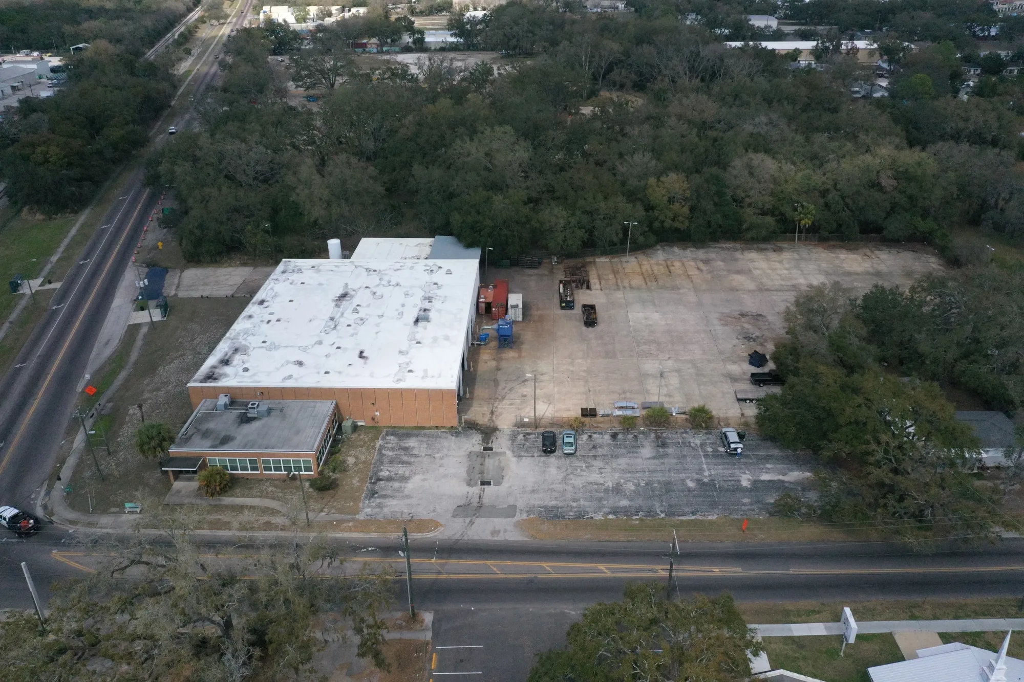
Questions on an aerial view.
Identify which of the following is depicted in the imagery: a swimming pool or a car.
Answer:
car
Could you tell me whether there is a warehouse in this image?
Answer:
Yes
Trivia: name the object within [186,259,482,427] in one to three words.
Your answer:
warehouse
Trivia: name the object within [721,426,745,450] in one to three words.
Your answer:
car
